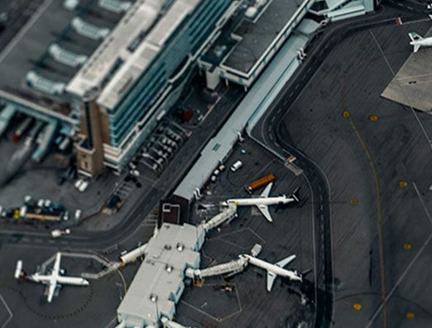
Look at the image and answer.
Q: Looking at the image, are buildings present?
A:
Yes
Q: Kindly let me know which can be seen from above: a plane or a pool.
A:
plane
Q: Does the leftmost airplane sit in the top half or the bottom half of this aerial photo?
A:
bottom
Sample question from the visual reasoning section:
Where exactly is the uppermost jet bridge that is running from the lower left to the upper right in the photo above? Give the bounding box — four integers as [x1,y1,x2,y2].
[198,200,238,236]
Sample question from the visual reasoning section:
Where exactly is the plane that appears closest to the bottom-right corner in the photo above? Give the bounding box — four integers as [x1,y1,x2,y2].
[239,254,307,289]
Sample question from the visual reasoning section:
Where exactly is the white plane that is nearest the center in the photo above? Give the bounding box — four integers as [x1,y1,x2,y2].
[223,182,295,221]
